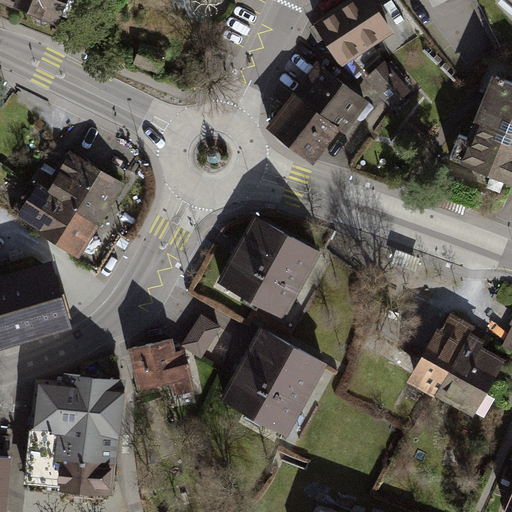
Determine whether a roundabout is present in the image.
Yes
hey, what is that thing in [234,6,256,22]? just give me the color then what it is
white car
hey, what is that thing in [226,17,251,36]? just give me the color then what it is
white vehicle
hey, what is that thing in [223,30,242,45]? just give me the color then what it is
white car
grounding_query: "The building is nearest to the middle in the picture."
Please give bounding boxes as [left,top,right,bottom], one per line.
[217,214,320,318]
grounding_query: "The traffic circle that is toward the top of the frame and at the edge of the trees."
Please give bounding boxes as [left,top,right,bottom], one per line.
[144,82,294,232]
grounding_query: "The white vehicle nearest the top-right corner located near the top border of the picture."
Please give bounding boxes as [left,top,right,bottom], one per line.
[384,0,404,24]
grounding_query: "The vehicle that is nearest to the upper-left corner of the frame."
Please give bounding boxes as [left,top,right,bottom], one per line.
[84,126,99,148]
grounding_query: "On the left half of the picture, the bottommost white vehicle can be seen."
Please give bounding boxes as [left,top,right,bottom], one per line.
[101,256,118,276]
